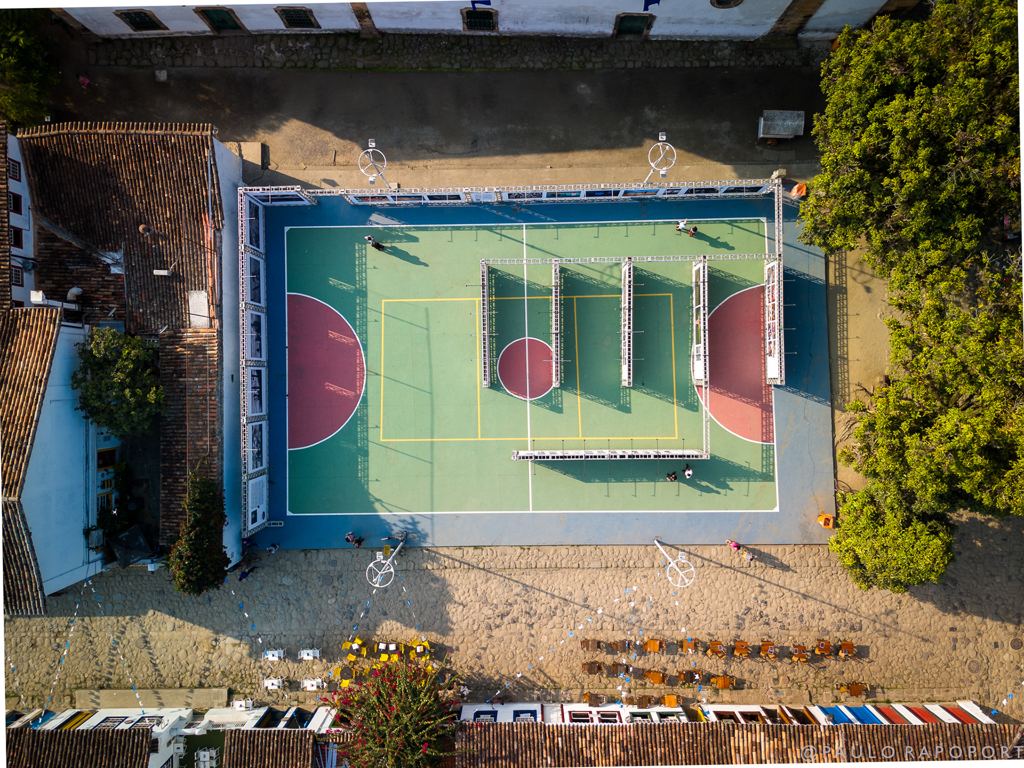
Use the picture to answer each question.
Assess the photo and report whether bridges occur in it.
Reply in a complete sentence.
No, no bridge can be seen from above.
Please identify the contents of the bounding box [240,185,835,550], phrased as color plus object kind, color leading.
green sports court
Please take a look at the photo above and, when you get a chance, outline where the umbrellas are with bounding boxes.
[109,524,155,569]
